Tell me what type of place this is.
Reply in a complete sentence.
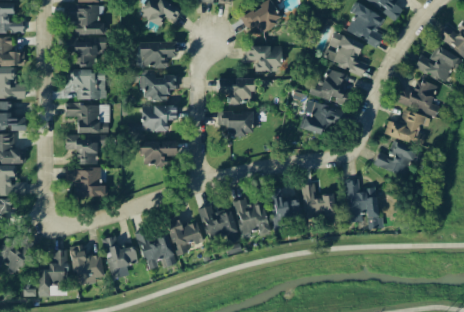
It's a residential area.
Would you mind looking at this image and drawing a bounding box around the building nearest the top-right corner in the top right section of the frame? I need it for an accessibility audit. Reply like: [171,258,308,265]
[440,24,464,60]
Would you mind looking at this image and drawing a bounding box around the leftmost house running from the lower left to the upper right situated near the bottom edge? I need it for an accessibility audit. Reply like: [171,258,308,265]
[37,250,70,299]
